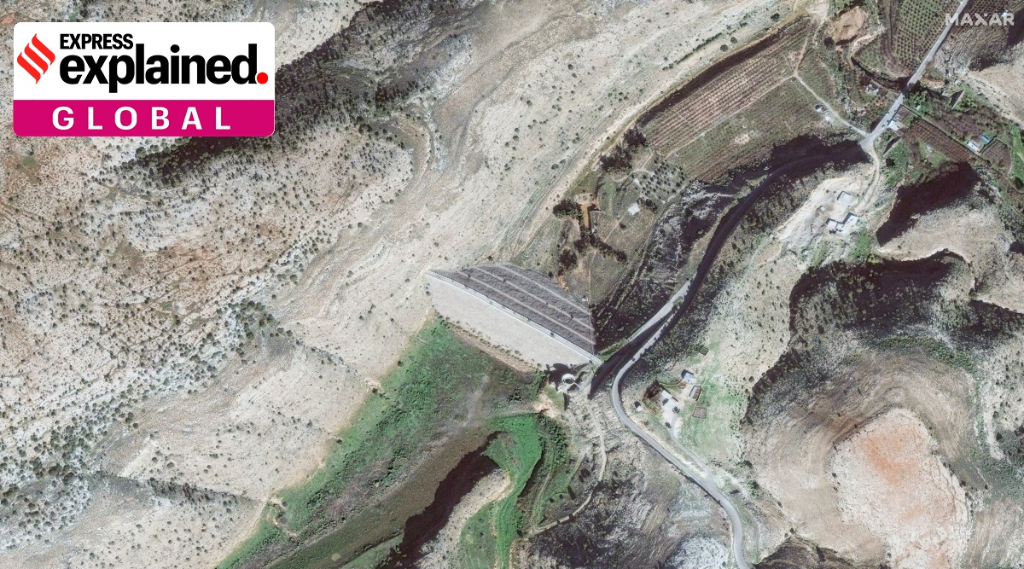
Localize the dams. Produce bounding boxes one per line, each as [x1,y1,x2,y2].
[425,263,601,367]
